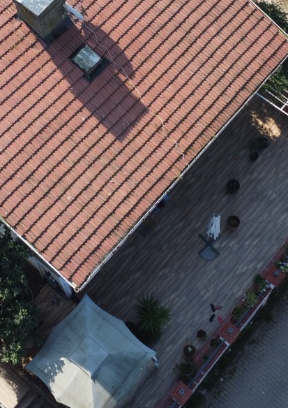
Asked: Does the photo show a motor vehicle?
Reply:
No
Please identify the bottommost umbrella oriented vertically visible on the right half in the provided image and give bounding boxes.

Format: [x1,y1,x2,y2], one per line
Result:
[194,215,223,271]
